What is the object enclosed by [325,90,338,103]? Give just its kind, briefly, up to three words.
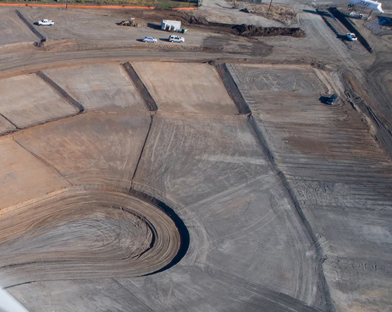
vehicle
